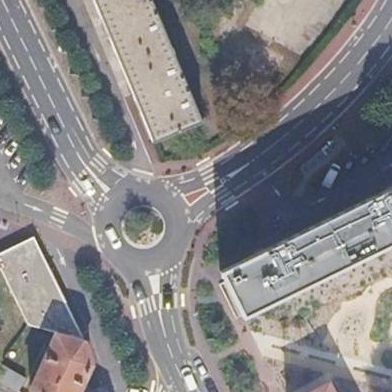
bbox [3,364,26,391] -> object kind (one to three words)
building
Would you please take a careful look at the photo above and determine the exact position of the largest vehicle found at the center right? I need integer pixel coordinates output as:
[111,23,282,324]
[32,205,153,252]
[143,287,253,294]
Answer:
[320,162,341,188]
